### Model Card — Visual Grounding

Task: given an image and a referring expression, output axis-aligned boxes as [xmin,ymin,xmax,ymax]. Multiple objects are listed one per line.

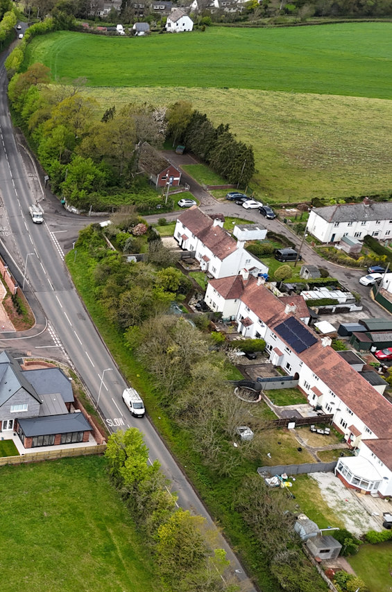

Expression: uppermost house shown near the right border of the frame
[306,192,392,242]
